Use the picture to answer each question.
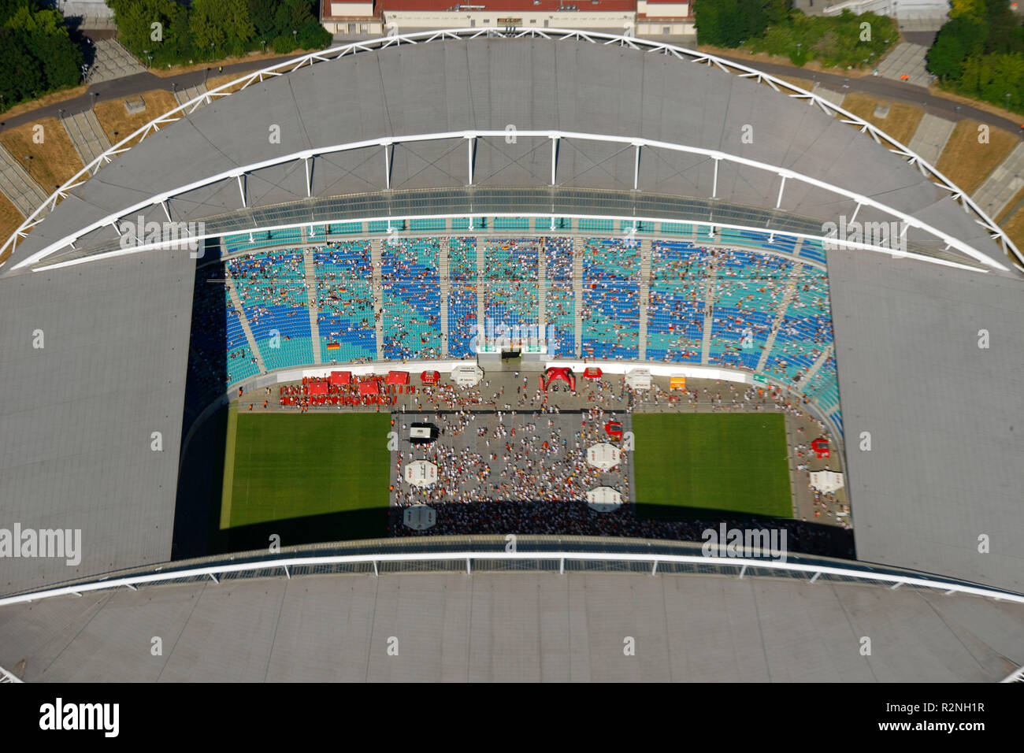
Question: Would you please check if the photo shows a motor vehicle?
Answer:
No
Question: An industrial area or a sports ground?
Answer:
sports ground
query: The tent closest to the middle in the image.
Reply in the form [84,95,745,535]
[540,375,578,400]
